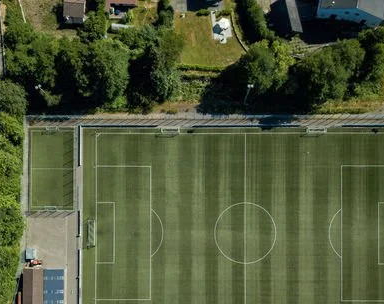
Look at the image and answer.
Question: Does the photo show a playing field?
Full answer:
Yes, there's a playing field here.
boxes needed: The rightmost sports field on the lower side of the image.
[81,125,384,304]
